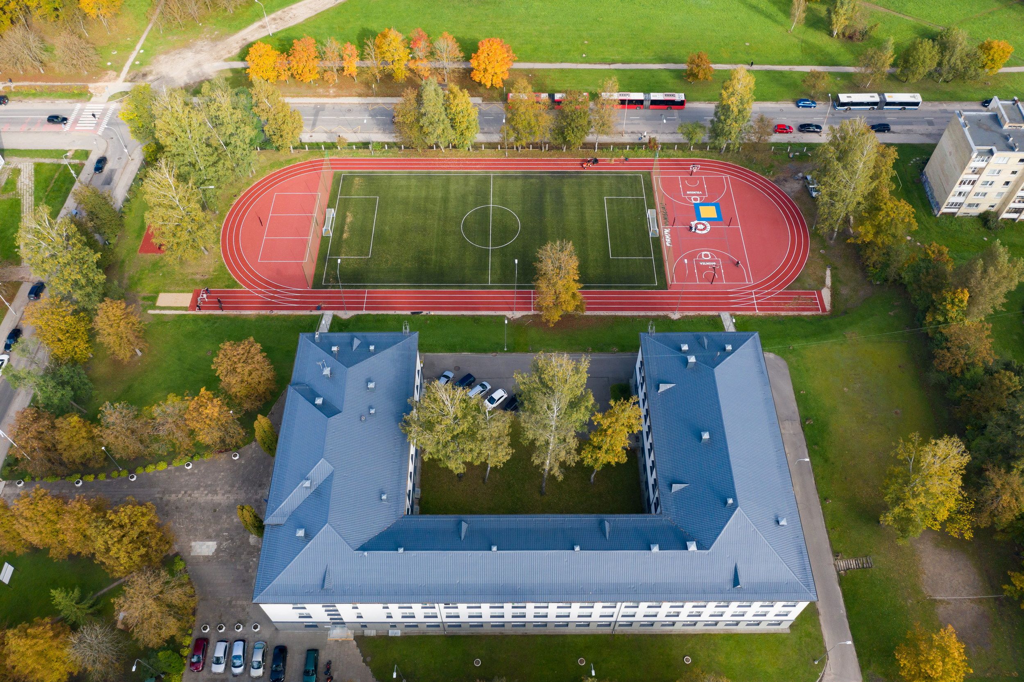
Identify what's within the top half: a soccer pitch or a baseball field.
soccer pitch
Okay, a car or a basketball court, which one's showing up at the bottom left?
car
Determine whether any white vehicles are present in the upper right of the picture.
Yes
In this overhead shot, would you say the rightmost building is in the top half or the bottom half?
top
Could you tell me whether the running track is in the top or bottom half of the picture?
top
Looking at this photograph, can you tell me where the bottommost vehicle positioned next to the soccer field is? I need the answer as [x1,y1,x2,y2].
[583,155,601,170]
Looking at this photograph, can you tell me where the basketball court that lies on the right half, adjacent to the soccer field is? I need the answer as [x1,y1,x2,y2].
[651,171,790,290]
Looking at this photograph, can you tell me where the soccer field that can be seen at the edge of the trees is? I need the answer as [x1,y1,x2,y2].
[311,170,668,290]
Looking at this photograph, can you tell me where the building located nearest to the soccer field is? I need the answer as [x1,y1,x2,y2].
[248,324,819,651]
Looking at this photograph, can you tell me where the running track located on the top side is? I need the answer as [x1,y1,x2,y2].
[189,158,828,312]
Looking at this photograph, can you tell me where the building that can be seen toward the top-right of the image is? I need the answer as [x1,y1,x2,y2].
[920,94,1024,217]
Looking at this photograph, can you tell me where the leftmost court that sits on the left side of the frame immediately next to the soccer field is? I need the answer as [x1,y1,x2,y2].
[240,170,334,289]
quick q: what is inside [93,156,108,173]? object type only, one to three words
car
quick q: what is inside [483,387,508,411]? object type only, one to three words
car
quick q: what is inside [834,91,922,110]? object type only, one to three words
vehicle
